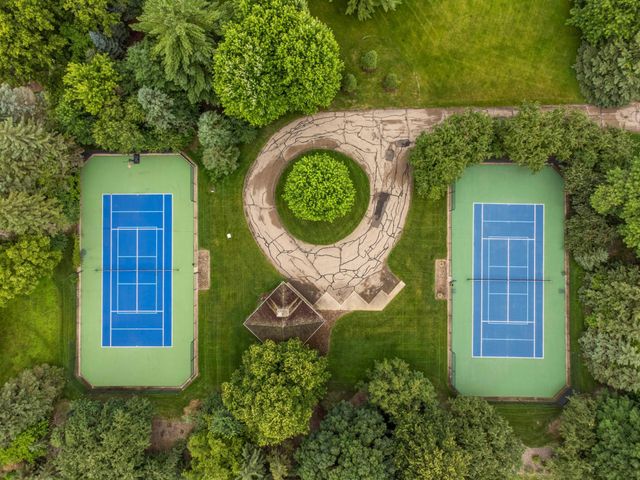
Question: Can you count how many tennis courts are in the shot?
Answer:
2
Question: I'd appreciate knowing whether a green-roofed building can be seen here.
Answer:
No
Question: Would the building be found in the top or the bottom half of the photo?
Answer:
bottom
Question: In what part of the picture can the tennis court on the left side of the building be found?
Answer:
left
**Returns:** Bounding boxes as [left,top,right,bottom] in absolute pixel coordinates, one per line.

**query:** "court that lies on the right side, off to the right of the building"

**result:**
[447,161,569,401]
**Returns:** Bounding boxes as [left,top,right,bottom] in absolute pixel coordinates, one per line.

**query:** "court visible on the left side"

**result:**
[76,151,198,391]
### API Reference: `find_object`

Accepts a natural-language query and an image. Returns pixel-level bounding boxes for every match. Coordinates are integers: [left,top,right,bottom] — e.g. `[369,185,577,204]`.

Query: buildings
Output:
[243,279,327,358]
